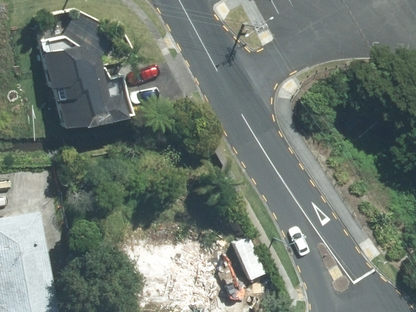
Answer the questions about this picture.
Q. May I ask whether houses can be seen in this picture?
Yes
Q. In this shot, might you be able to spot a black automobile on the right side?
No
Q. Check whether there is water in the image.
No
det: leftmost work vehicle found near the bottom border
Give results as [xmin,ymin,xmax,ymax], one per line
[218,252,246,306]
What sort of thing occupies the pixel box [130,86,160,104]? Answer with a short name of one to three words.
car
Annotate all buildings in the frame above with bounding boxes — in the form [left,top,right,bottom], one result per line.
[37,18,134,128]
[230,235,266,280]
[0,210,58,312]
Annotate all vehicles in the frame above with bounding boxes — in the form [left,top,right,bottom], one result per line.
[130,86,160,104]
[285,225,311,256]
[126,64,160,84]
[218,252,246,306]
[0,196,8,208]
